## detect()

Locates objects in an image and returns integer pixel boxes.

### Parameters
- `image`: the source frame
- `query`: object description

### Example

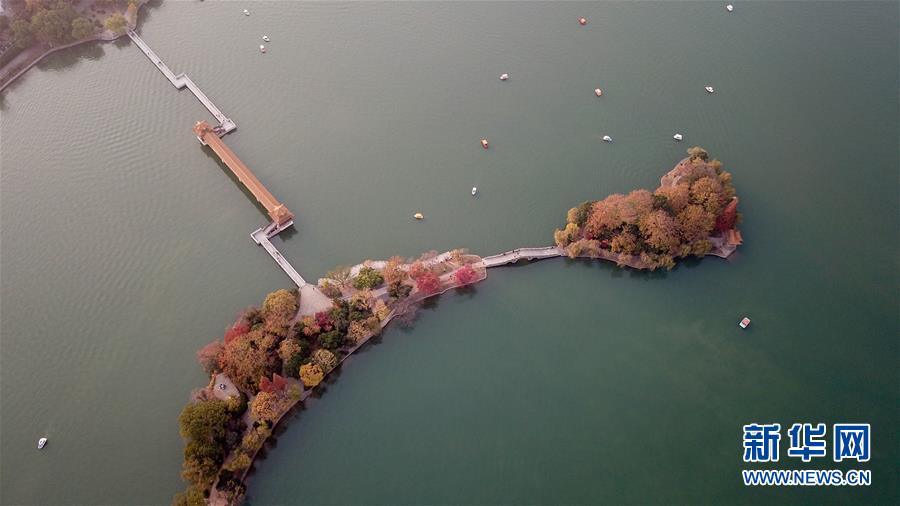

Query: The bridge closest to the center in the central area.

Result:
[483,245,562,268]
